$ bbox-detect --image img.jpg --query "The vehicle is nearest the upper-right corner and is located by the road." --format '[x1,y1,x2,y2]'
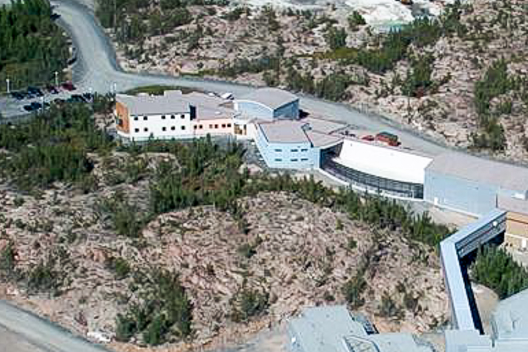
[375,130,400,146]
